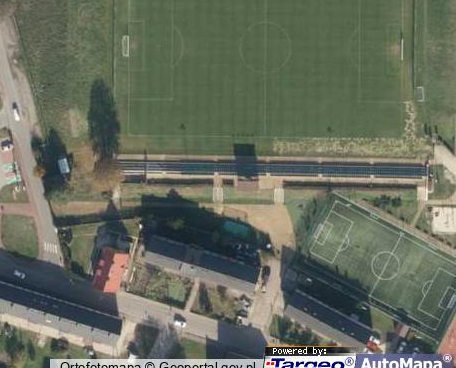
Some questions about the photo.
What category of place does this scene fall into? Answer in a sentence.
What you see here is a sports ground.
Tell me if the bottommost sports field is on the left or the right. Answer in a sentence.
The bottommost sports field sits on the right side.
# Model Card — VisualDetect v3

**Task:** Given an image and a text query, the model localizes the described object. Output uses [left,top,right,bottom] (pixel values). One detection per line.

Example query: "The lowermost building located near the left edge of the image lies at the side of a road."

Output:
[0,280,124,346]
